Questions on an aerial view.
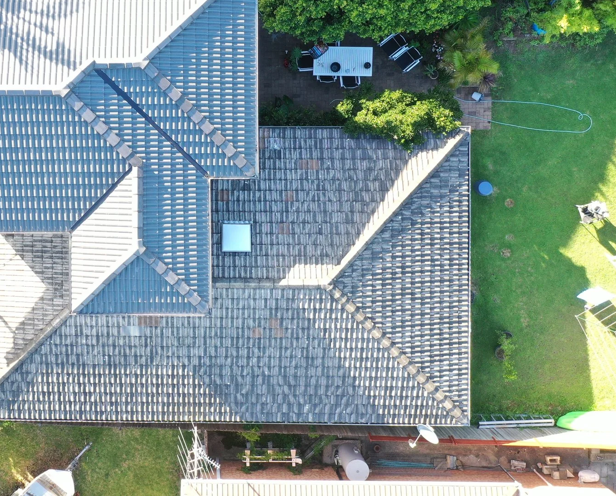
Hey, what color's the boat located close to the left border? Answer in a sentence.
In this view, the boat located close to the left border is white.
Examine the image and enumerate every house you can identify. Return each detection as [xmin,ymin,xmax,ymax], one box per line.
[178,457,616,496]
[0,0,473,429]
